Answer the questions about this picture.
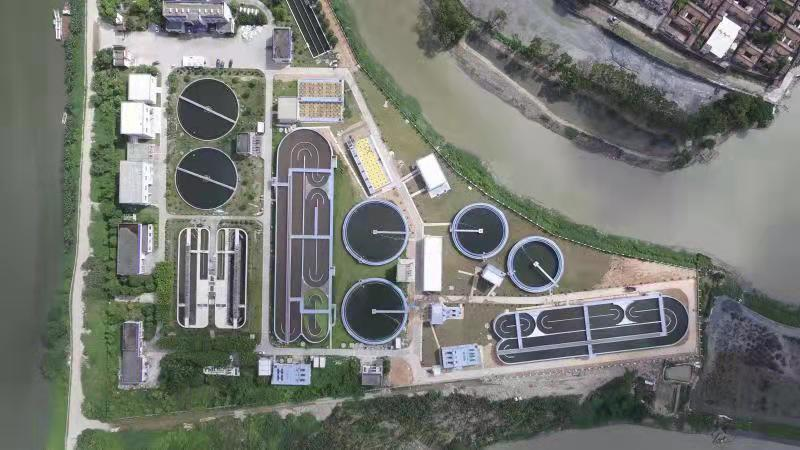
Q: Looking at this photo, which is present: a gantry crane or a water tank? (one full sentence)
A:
There is a water tank in the scene.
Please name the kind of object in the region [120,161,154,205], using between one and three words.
building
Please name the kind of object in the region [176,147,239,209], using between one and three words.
water tank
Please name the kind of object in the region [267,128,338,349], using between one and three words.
water tank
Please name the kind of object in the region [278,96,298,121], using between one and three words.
house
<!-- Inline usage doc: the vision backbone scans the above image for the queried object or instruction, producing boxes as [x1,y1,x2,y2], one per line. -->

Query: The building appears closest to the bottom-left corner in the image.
[120,320,149,388]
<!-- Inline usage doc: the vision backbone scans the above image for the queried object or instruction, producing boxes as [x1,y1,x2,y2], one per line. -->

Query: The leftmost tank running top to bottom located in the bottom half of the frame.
[177,227,212,329]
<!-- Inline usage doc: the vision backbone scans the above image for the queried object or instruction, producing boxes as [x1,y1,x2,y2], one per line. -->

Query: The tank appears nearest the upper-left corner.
[177,78,240,141]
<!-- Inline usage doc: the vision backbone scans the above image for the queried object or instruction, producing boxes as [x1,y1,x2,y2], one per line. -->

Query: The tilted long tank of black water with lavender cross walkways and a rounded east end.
[492,293,689,365]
